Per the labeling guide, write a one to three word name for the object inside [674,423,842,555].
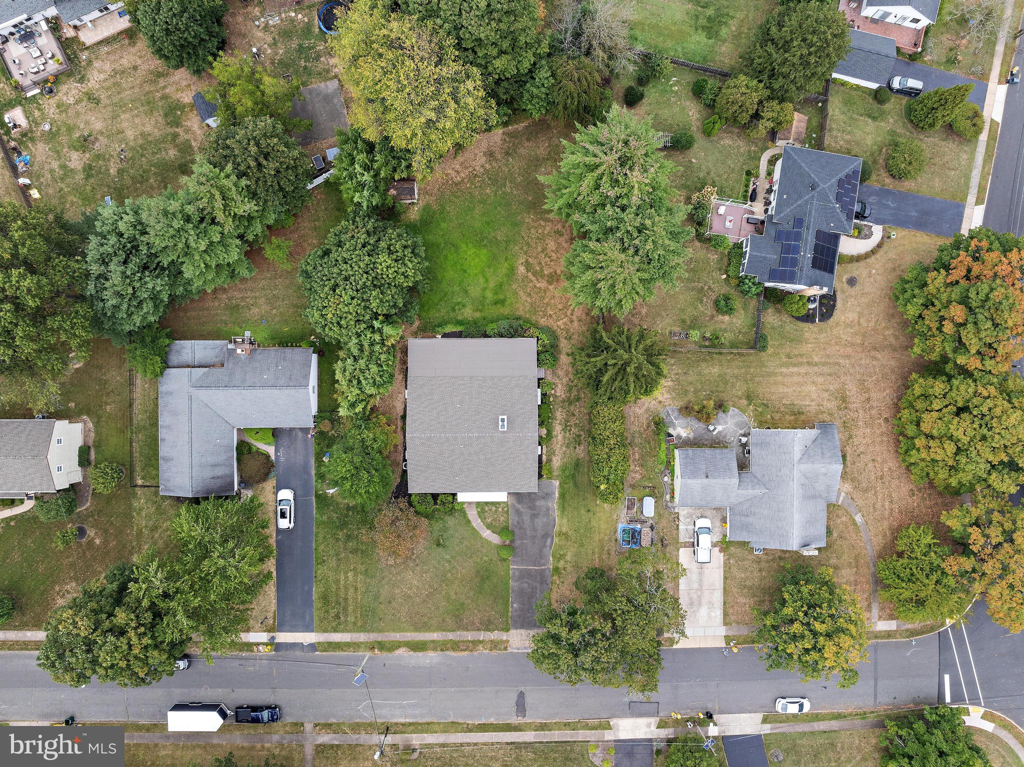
house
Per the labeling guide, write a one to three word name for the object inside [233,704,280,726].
truck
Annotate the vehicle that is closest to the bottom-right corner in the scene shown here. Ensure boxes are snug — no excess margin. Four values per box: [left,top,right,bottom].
[776,698,813,718]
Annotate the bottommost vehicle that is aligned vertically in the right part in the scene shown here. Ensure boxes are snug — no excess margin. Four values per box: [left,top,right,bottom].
[694,517,714,564]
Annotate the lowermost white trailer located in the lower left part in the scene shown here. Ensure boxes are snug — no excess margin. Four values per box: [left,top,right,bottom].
[167,701,233,732]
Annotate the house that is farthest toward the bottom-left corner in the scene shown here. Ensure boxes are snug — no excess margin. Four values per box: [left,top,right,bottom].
[0,419,84,501]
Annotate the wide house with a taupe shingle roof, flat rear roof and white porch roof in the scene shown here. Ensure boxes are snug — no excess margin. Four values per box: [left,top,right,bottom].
[404,337,545,502]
